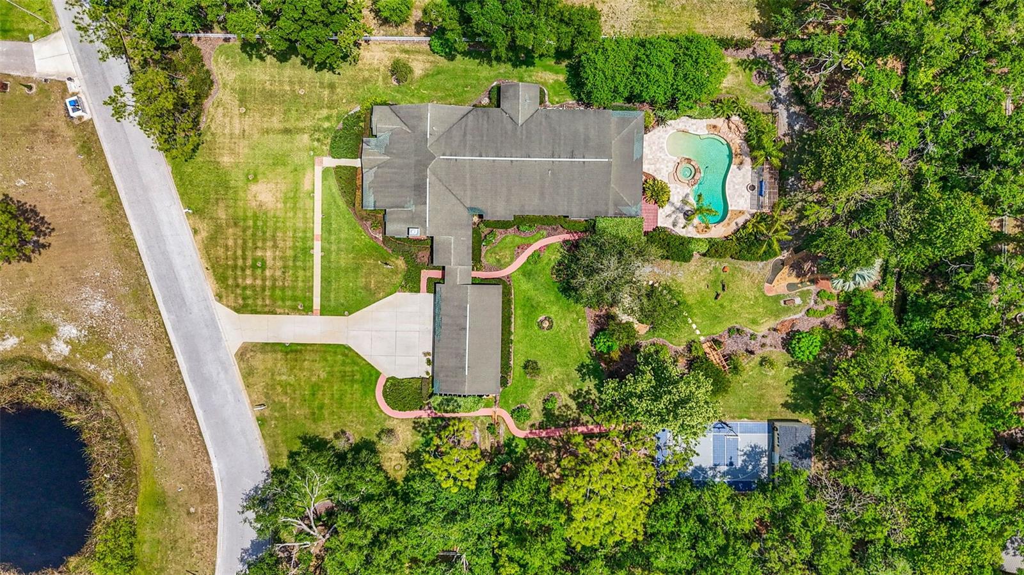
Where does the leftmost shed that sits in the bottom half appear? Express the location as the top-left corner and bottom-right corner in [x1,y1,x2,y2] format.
[773,421,814,476]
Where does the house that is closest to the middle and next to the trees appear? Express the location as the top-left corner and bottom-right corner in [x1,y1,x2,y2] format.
[359,80,644,397]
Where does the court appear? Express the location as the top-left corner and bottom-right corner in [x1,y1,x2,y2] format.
[657,421,773,491]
